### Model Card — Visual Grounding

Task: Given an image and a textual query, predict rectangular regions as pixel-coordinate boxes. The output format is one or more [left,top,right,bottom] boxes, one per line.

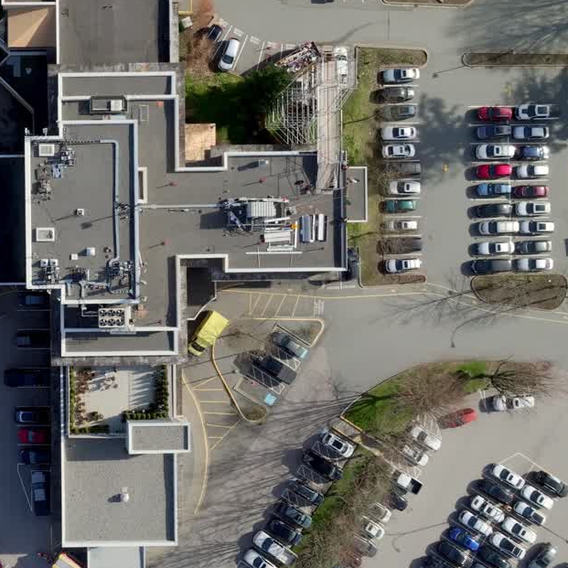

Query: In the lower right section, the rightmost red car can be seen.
[438,407,477,431]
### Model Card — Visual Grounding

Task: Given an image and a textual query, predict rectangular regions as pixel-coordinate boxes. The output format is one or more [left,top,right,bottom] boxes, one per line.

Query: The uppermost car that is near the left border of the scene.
[17,291,51,309]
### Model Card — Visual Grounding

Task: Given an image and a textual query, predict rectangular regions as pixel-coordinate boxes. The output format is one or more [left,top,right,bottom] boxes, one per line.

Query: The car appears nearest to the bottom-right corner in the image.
[525,543,558,568]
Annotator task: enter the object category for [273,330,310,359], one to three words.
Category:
car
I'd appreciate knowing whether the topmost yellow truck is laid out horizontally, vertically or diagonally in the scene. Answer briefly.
diagonally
